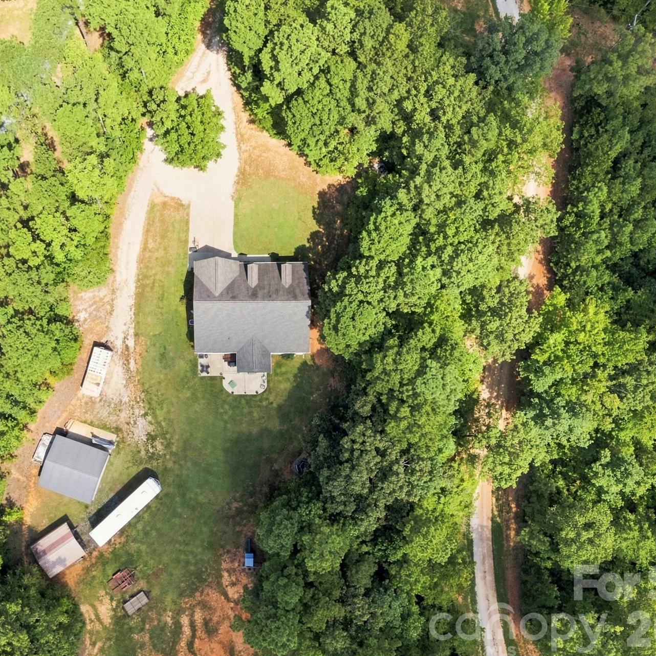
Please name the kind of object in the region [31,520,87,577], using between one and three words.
shed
